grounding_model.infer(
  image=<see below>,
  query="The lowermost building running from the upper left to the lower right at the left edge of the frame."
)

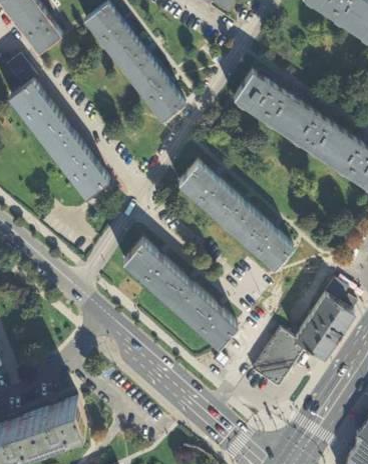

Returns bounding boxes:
[11,76,111,201]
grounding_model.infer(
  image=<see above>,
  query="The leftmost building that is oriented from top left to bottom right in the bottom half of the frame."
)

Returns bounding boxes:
[124,230,237,352]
